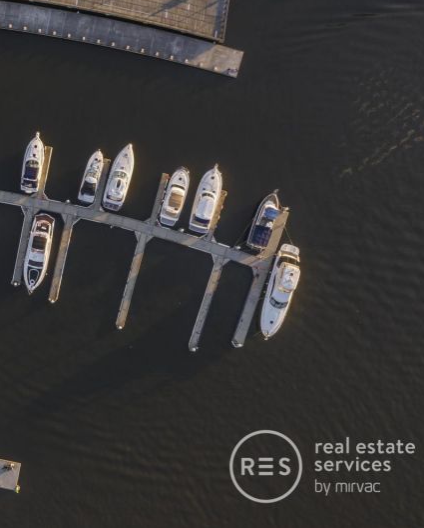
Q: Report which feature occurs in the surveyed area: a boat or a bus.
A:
boat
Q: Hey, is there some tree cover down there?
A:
No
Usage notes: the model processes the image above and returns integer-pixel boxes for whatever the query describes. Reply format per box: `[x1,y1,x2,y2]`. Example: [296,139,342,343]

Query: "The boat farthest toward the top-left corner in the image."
[20,130,45,193]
